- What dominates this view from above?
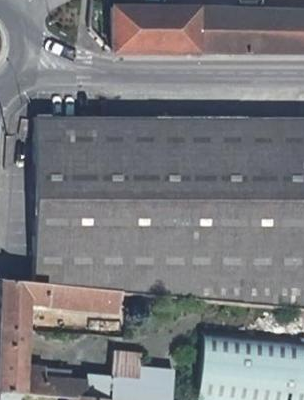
buildings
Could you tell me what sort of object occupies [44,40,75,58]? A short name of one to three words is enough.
vehicle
